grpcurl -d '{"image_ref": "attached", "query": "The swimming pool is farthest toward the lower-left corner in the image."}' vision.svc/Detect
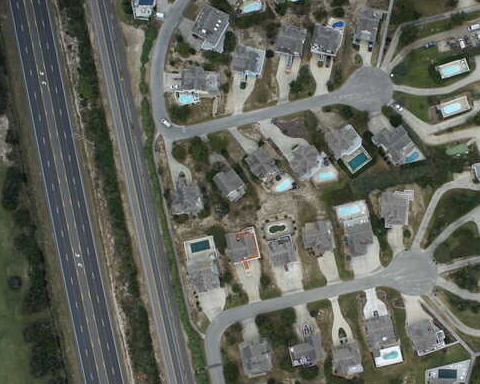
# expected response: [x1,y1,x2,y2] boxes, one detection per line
[185,237,218,261]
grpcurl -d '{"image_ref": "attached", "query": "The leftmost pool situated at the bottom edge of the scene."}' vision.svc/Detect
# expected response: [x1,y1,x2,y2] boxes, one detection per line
[375,344,403,367]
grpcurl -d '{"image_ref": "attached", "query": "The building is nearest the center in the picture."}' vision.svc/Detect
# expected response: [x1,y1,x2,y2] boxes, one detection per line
[215,167,246,202]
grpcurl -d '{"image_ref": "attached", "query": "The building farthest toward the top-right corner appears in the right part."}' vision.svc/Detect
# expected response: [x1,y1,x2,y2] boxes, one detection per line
[355,6,381,41]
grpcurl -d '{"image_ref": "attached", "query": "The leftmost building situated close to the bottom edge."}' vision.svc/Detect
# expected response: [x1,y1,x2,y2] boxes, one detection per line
[239,340,272,377]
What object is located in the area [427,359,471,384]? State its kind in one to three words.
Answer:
swimming pool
